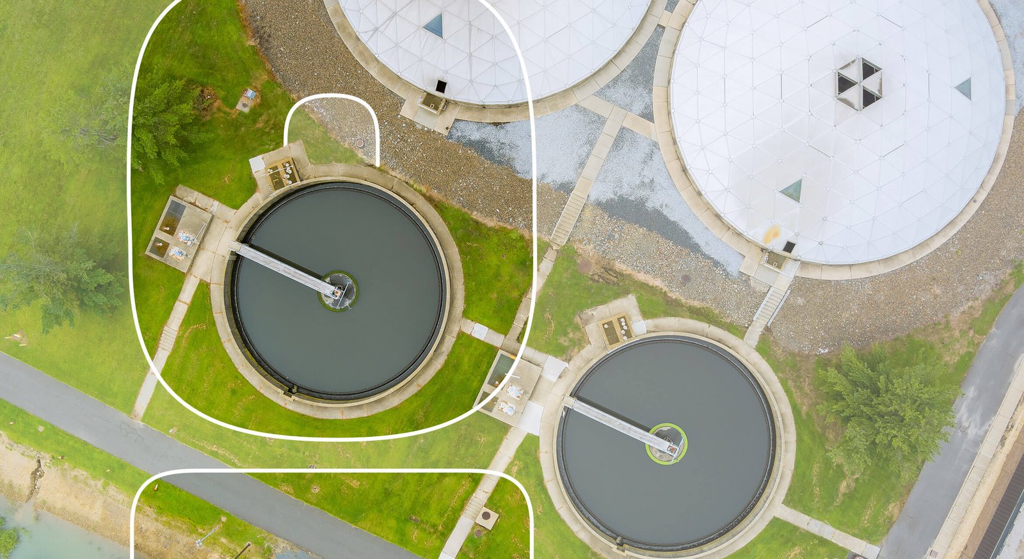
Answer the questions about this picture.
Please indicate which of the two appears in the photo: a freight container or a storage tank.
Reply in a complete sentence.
This aerial view contains a storage tank.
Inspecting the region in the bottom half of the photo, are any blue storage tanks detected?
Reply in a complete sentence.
No, there is no blue storage tank in the bottom half of the photo.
